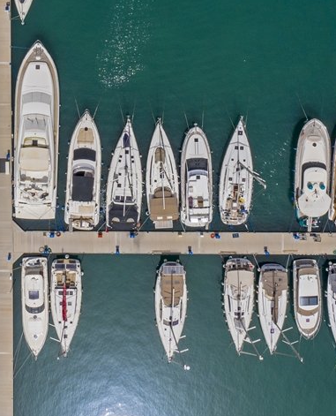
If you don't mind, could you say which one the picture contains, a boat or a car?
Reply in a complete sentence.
This aerial view contains a boat.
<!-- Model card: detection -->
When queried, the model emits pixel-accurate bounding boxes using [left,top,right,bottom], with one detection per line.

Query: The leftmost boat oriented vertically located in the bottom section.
[11,255,51,376]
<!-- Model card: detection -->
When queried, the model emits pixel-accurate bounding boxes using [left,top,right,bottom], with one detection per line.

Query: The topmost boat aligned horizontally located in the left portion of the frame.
[73,218,100,231]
